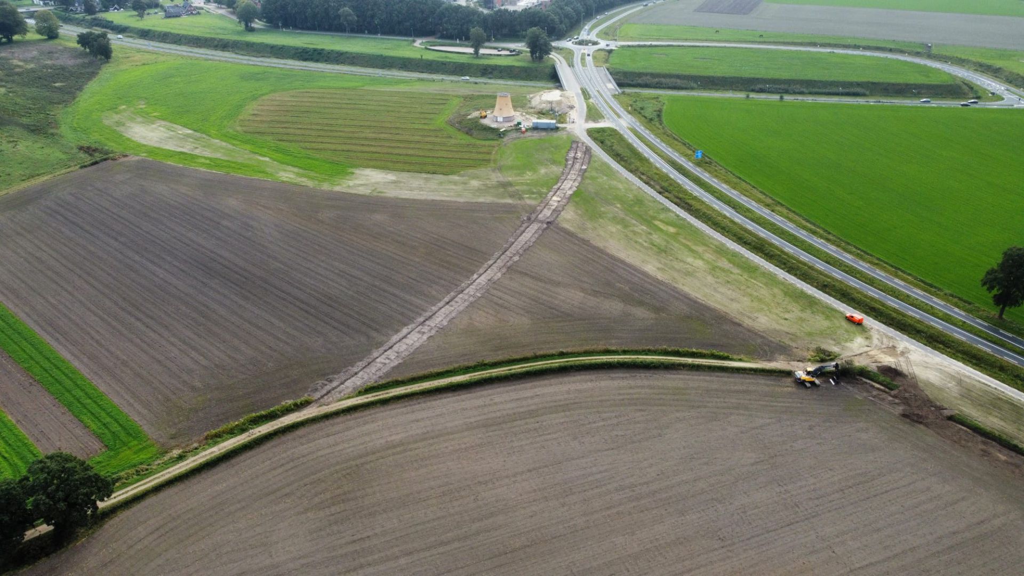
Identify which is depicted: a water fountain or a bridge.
bridge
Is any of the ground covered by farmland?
Yes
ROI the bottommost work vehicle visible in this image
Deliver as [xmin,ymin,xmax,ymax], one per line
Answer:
[795,361,840,385]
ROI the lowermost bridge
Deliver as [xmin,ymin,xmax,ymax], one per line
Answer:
[555,60,622,95]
